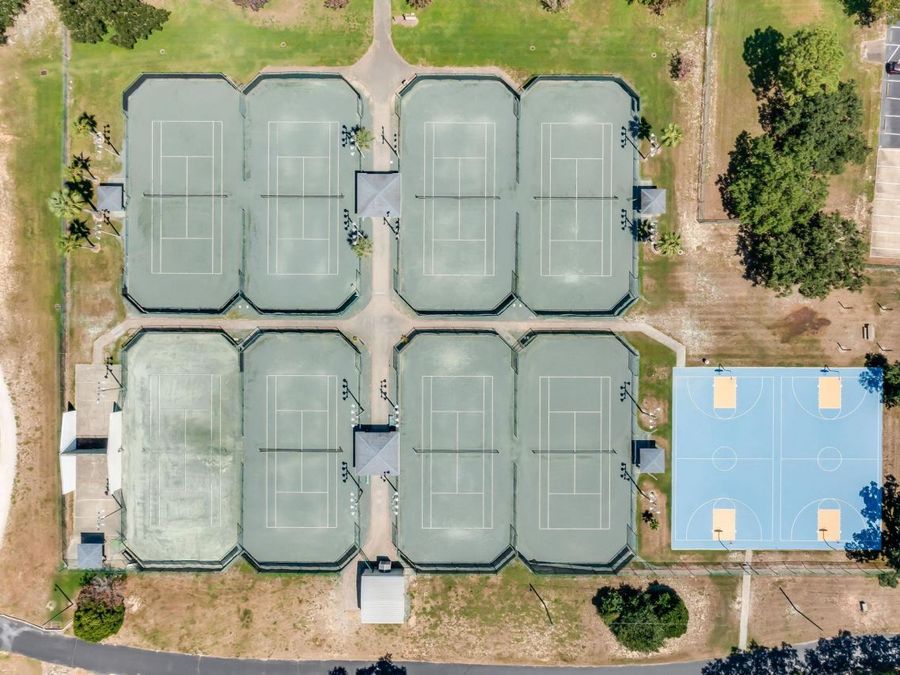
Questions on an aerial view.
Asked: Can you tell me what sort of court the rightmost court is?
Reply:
basketball court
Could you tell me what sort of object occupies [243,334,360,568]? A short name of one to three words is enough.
tennis court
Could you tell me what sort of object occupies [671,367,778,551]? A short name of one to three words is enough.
basketball court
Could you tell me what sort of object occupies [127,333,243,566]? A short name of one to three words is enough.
tennis court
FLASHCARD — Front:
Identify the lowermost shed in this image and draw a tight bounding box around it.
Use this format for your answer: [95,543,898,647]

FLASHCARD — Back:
[361,570,404,623]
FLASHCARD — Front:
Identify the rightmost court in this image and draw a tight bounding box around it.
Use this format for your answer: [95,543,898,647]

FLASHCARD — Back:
[777,367,883,551]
